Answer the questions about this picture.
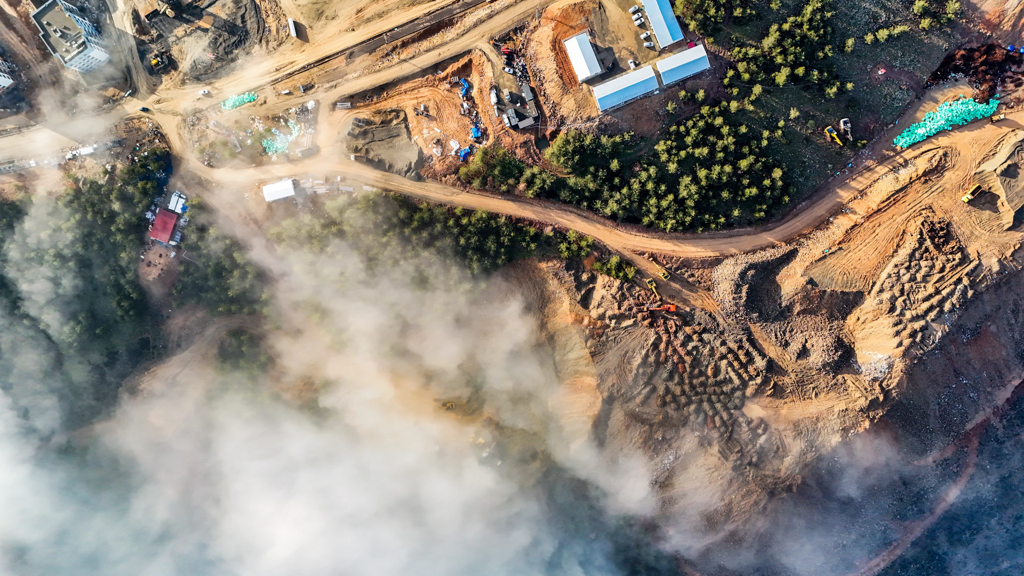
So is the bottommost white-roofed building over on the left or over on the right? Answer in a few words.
left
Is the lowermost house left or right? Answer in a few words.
left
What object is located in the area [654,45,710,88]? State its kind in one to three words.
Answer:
building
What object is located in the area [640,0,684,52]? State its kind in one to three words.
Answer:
building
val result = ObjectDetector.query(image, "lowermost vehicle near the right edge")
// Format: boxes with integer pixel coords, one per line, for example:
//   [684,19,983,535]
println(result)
[964,182,987,201]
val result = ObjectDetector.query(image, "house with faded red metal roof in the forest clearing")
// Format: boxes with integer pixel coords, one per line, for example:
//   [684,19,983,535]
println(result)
[149,208,178,245]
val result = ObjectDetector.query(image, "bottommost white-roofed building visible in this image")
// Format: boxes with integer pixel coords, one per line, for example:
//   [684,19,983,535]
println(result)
[262,178,300,204]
